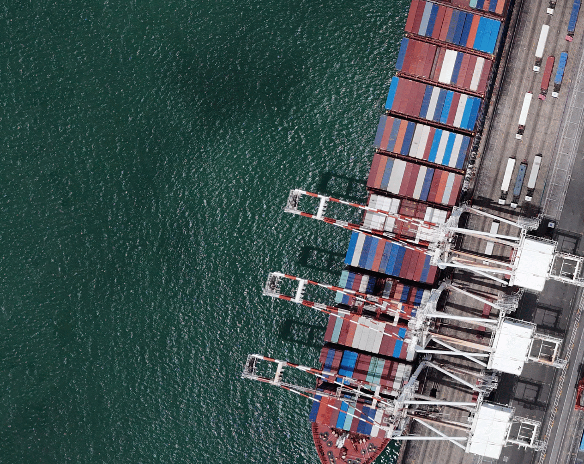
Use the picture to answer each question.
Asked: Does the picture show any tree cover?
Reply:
No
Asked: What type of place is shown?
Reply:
port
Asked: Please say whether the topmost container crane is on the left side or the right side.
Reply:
right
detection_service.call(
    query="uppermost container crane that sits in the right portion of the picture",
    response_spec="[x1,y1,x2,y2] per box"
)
[279,186,584,300]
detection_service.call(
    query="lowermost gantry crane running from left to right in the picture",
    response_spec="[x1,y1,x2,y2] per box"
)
[238,351,549,464]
